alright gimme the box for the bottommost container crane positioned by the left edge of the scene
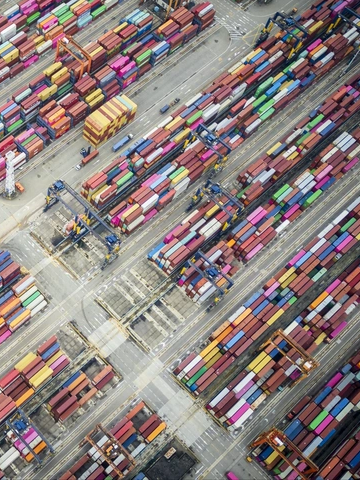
[2,408,56,472]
